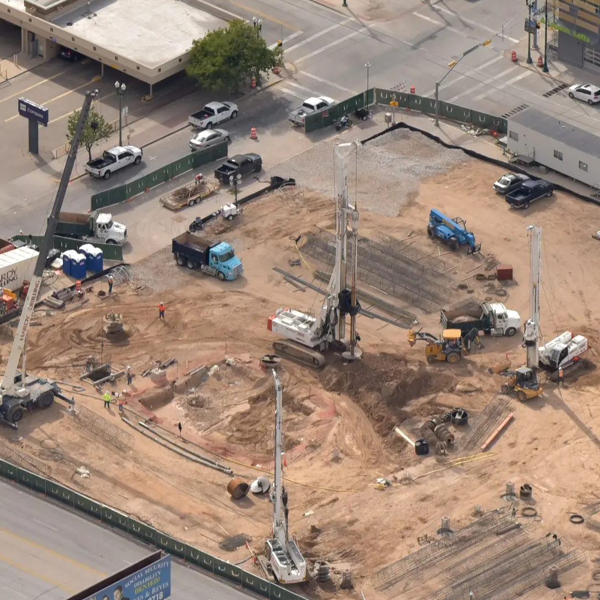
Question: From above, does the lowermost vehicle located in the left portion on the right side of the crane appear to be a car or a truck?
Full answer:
The lowermost vehicle located in the left portion on the right side of the crane can be classified as a truck.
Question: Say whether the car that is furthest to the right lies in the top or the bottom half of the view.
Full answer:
Seen from above, the car that is furthest to the right lies in the top half of the view.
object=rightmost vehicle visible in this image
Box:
[565,81,600,105]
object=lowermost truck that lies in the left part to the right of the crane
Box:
[170,225,243,279]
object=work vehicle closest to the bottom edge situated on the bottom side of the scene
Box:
[489,359,545,398]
